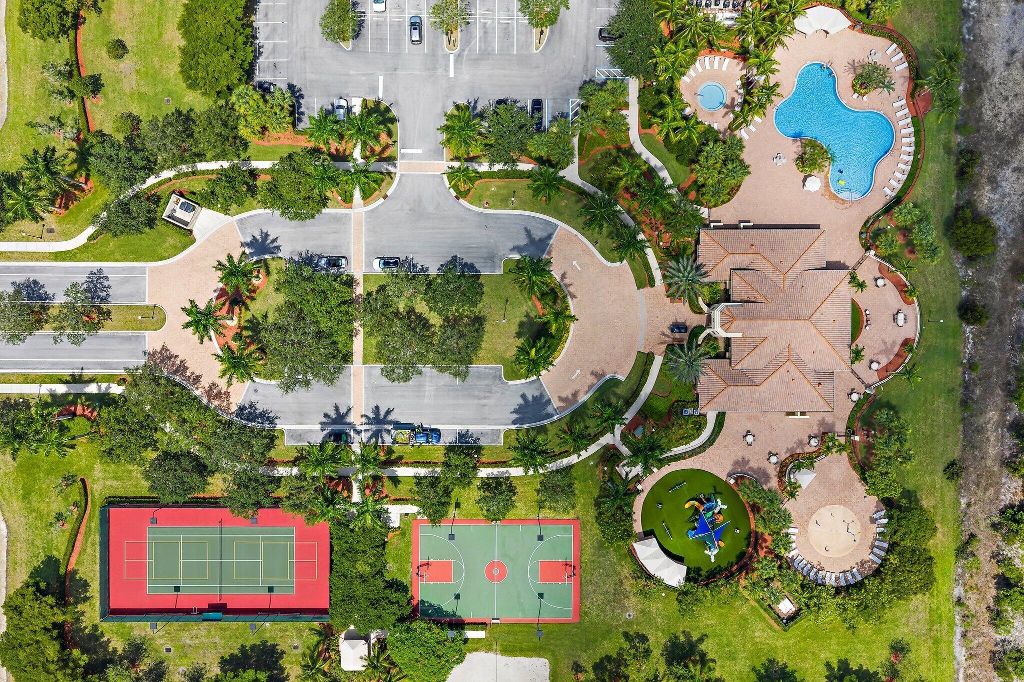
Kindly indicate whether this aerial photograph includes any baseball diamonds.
No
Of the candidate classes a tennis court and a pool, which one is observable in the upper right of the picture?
pool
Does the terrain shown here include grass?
Yes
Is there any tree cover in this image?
Yes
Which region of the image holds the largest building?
right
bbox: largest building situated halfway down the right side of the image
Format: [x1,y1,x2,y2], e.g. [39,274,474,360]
[697,229,852,412]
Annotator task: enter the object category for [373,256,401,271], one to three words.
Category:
car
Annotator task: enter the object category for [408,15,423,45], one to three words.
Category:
vehicle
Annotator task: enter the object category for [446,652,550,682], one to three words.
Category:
sports court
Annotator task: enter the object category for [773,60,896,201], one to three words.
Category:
swimming pool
